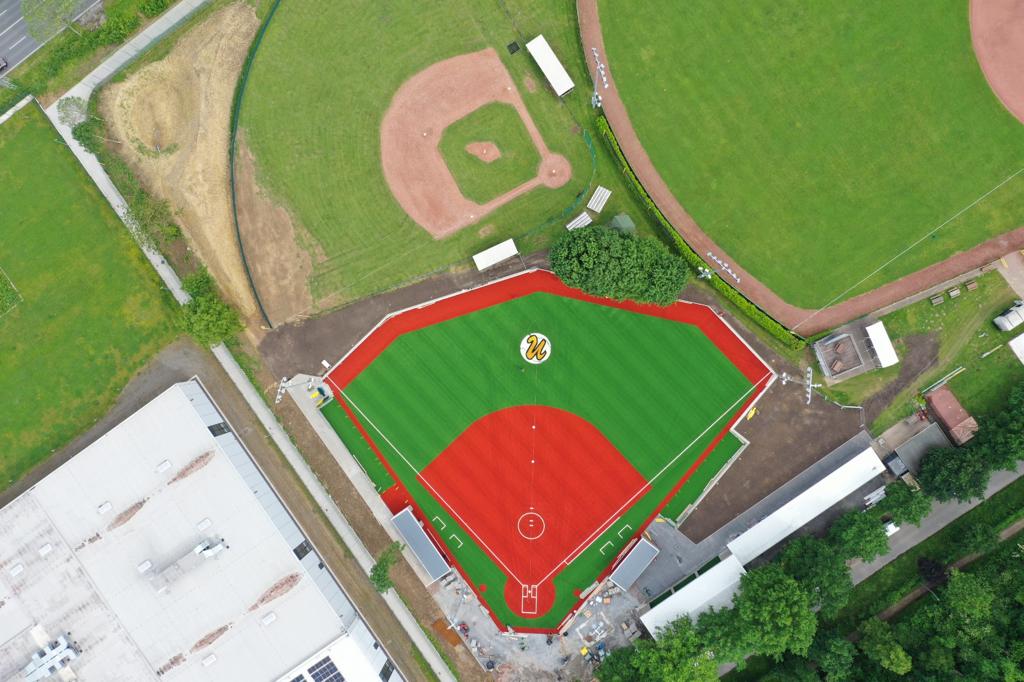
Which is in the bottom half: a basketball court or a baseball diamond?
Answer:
baseball diamond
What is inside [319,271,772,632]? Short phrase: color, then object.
green baseball field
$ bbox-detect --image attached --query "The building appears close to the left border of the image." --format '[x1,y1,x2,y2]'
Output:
[0,377,403,682]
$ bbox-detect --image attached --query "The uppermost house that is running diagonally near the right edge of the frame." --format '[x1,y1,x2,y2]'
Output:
[919,387,978,445]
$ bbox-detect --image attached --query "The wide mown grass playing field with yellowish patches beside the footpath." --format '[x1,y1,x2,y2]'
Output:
[0,103,186,488]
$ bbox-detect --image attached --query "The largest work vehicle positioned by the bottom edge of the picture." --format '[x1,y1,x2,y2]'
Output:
[580,647,601,665]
